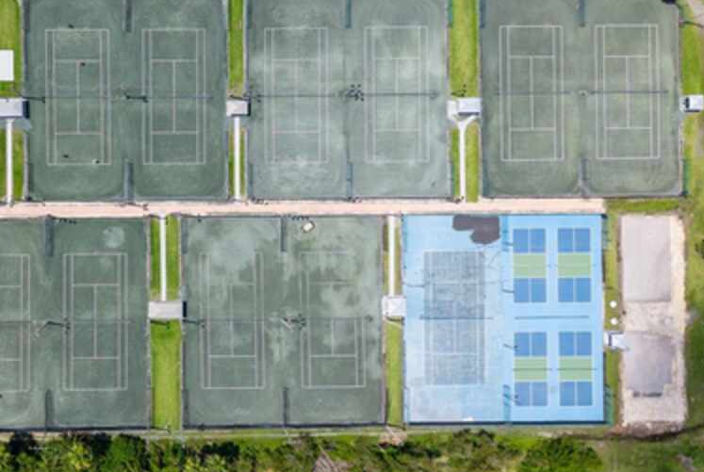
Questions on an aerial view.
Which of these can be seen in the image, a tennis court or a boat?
tennis court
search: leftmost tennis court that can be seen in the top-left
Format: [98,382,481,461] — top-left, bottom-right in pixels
[22,0,128,201]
